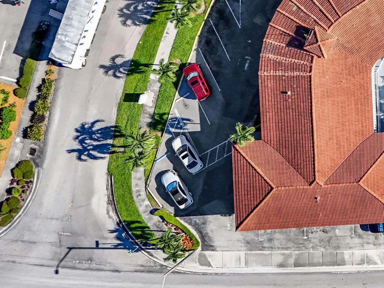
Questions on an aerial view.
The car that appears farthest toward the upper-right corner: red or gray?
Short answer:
red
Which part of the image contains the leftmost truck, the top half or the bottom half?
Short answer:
top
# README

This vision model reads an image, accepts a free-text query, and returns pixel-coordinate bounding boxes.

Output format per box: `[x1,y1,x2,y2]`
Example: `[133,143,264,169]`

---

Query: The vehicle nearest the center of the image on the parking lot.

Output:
[171,134,207,177]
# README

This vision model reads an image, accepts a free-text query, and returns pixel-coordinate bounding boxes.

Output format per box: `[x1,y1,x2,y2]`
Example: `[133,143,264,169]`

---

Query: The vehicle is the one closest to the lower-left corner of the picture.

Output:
[160,168,197,212]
